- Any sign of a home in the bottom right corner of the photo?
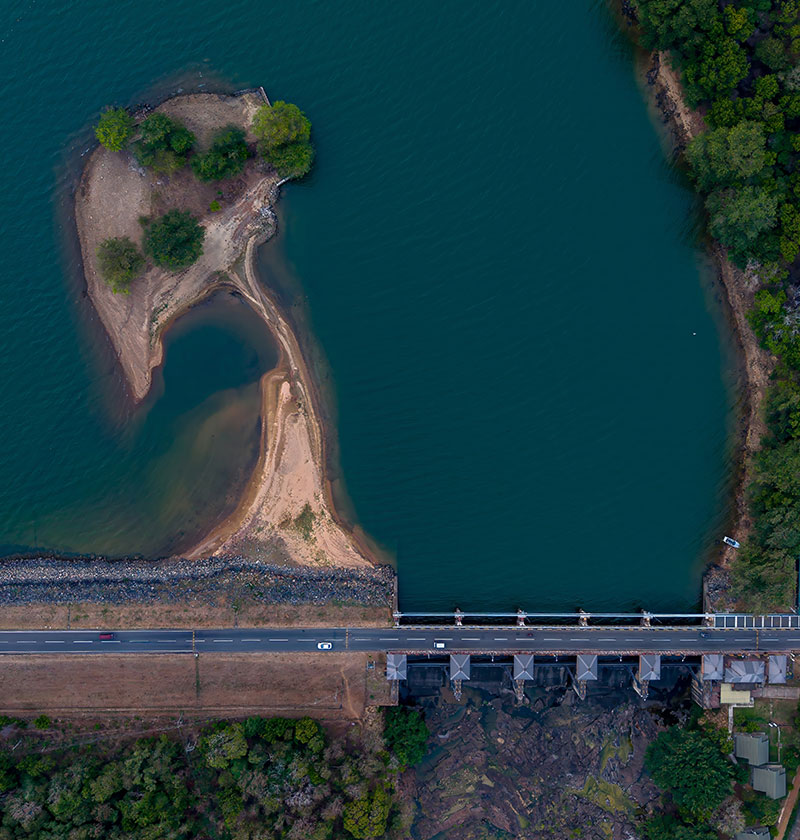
Yes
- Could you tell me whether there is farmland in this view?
No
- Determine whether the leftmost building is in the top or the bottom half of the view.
bottom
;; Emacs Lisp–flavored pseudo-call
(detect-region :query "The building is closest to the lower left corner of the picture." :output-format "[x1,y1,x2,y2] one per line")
[386,654,407,680]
